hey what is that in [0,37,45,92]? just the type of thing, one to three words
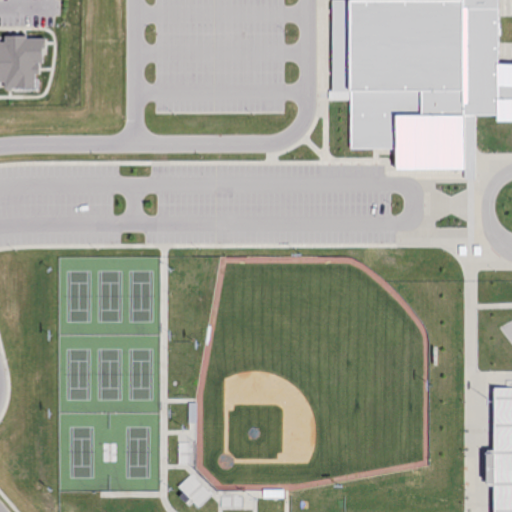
house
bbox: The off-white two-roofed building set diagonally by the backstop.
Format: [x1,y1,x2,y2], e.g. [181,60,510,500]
[177,474,212,508]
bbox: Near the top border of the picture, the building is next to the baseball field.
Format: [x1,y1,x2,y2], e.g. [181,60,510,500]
[329,0,512,172]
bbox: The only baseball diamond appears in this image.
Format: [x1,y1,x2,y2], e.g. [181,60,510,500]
[196,257,429,490]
